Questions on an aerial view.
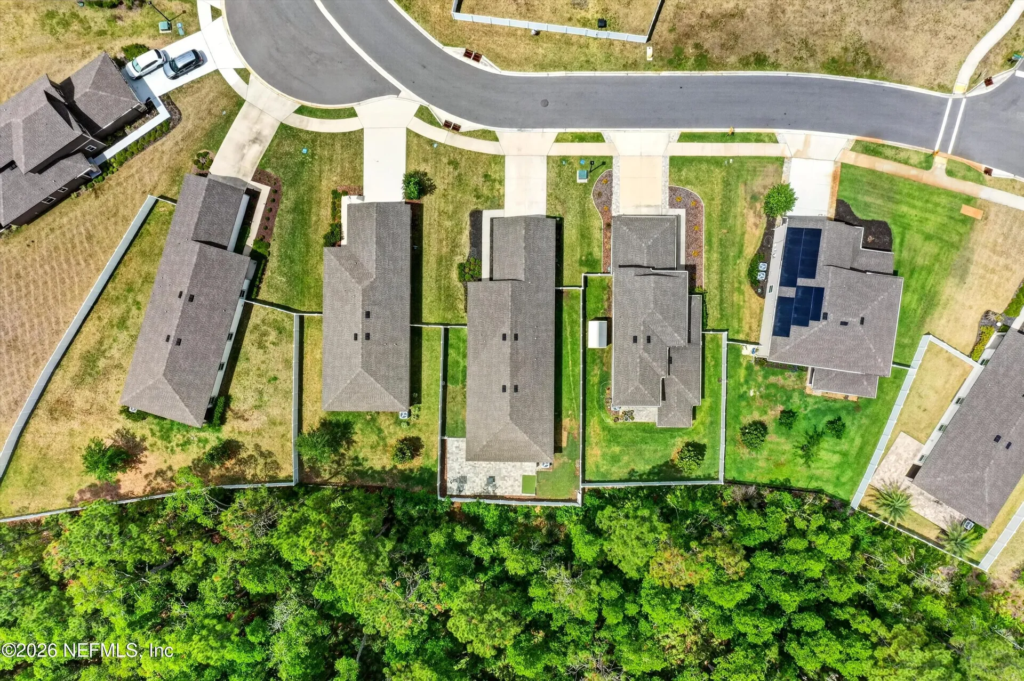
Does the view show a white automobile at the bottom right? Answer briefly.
No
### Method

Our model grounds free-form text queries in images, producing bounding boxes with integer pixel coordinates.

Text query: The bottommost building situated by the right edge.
[903,326,1024,529]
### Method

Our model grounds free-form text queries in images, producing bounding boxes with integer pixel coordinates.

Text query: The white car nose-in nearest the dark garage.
[126,47,169,81]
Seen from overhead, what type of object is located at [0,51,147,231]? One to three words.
house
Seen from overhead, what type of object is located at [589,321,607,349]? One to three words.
shed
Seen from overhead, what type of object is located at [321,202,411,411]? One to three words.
house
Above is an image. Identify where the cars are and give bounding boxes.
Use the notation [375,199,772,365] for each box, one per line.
[126,47,169,81]
[164,48,205,81]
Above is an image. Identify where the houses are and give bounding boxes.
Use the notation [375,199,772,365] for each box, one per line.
[611,216,702,428]
[757,218,904,399]
[0,51,147,231]
[466,216,555,463]
[903,326,1024,529]
[120,173,257,428]
[321,202,411,411]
